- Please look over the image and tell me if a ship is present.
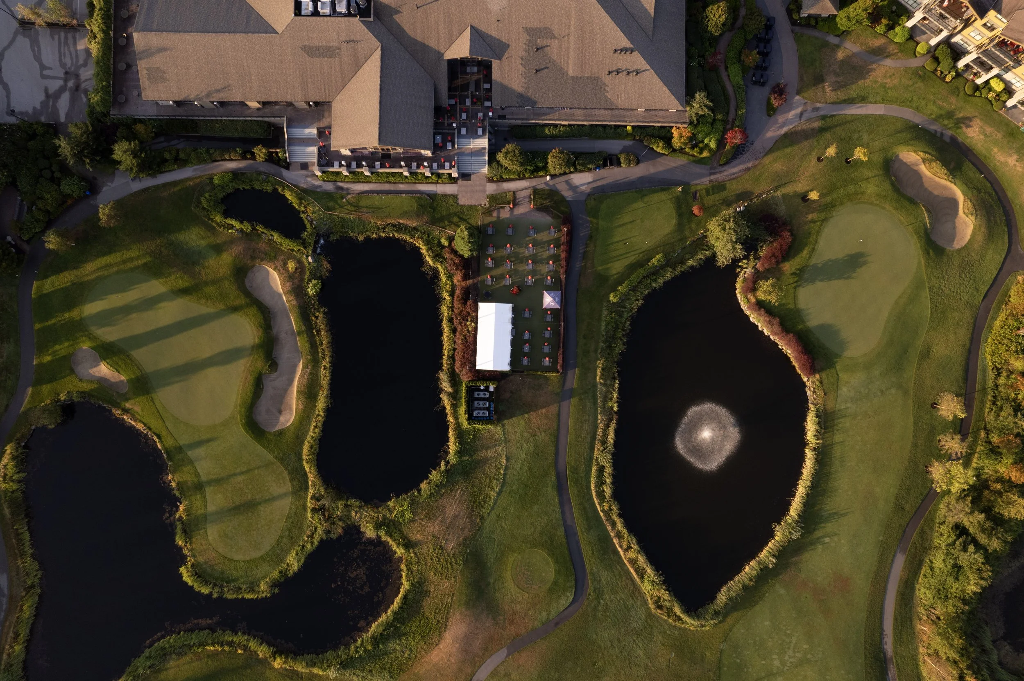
No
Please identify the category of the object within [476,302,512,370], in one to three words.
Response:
tent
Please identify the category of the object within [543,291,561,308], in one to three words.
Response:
umbrella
